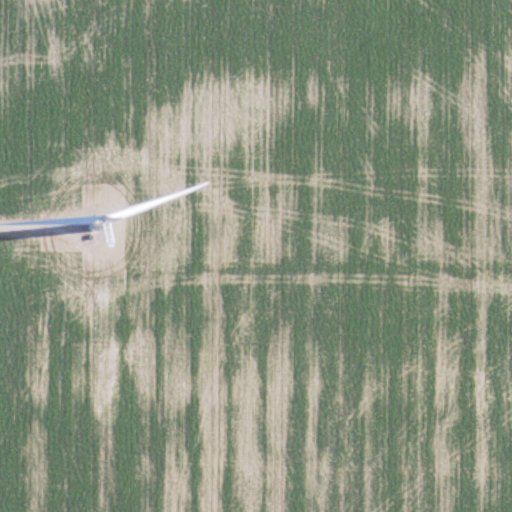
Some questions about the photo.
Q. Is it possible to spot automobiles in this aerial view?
No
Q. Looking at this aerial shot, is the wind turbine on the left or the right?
left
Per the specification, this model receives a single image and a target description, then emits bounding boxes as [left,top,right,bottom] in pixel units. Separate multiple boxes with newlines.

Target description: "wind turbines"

[0,182,209,247]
